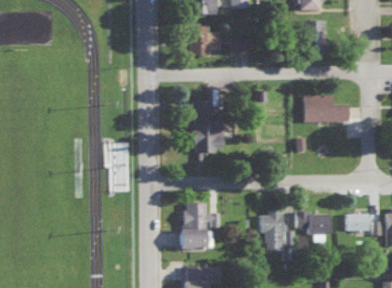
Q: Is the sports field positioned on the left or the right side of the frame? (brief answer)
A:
left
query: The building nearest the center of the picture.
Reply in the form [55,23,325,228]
[192,127,226,161]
